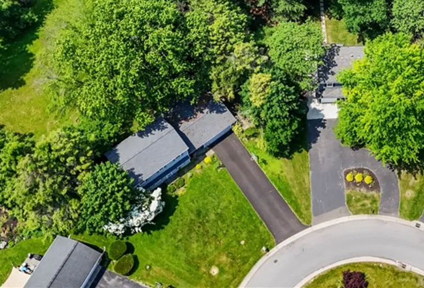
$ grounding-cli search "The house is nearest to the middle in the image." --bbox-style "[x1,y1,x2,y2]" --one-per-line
[107,101,239,200]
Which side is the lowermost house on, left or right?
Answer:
left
